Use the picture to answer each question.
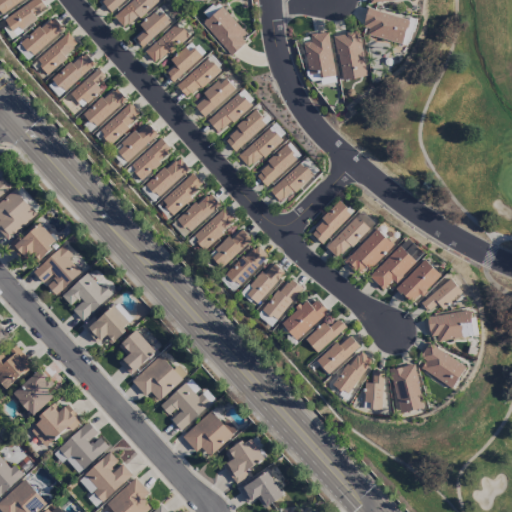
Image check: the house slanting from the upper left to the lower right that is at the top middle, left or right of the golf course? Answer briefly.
to the left of it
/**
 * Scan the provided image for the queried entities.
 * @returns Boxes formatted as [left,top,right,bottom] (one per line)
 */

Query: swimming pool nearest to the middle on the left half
[122,291,136,312]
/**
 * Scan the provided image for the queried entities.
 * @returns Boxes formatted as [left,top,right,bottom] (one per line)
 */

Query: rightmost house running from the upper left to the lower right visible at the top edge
[204,4,251,53]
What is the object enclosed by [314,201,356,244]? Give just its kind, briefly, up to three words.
house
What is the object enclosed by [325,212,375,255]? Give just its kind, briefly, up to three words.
house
